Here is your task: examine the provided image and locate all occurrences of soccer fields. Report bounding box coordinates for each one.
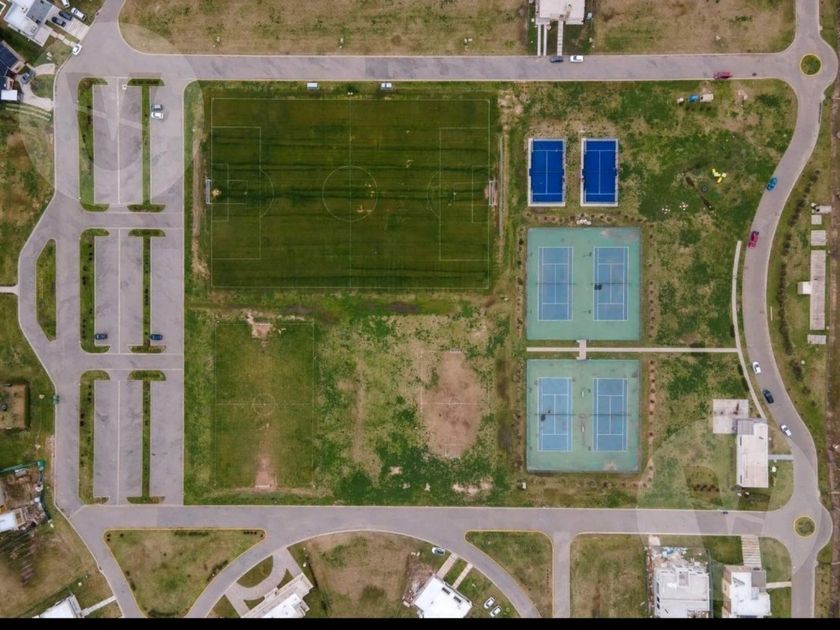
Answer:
[416,349,492,461]
[210,318,318,491]
[205,93,495,291]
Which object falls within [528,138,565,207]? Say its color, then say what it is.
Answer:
blue sports court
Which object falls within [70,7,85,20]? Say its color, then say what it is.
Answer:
white vehicle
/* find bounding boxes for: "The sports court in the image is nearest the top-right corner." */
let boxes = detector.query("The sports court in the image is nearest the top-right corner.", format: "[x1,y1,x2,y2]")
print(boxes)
[581,138,619,207]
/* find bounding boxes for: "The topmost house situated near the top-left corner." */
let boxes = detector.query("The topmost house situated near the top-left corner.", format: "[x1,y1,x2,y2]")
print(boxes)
[4,0,57,49]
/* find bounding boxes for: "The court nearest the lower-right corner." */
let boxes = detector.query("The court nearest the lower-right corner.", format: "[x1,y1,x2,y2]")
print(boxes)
[593,378,632,452]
